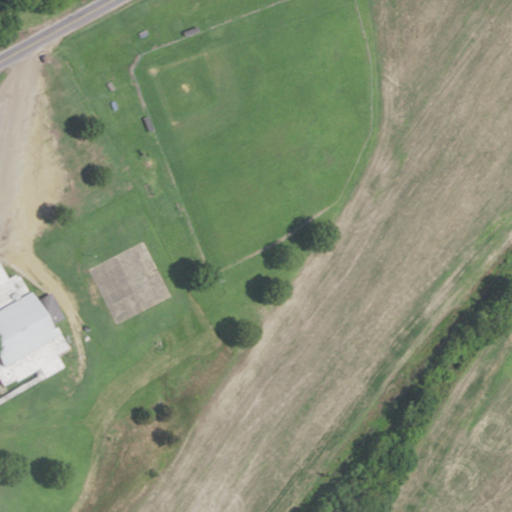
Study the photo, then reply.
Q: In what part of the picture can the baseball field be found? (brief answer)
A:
top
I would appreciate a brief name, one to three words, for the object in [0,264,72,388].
building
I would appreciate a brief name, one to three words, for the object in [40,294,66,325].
shed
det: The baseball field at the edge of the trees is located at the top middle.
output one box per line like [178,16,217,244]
[134,0,372,269]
